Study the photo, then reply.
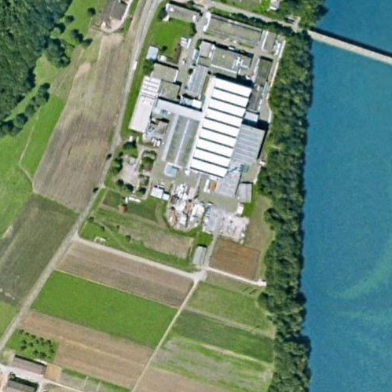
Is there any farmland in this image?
Yes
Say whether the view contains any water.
Yes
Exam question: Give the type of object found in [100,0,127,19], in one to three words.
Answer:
barn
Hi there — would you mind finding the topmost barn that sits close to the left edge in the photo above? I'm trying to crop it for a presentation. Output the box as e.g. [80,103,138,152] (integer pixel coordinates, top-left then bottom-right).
[12,354,46,376]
